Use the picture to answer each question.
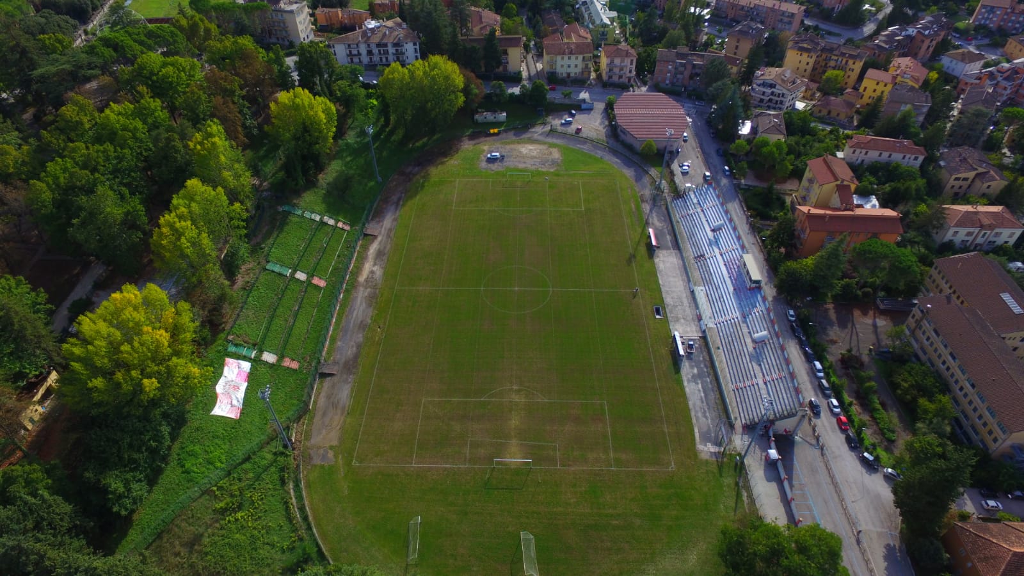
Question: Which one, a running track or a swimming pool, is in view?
running track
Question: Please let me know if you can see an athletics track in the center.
Yes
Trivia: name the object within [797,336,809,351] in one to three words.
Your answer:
vehicle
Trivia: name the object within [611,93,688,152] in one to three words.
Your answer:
building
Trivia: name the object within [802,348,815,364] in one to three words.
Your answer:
vehicle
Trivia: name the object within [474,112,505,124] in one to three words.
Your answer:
building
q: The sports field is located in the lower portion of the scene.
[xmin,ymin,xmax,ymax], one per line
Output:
[298,122,755,576]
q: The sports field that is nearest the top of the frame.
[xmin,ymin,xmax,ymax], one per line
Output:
[125,0,215,29]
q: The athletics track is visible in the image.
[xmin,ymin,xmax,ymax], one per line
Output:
[312,123,665,464]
